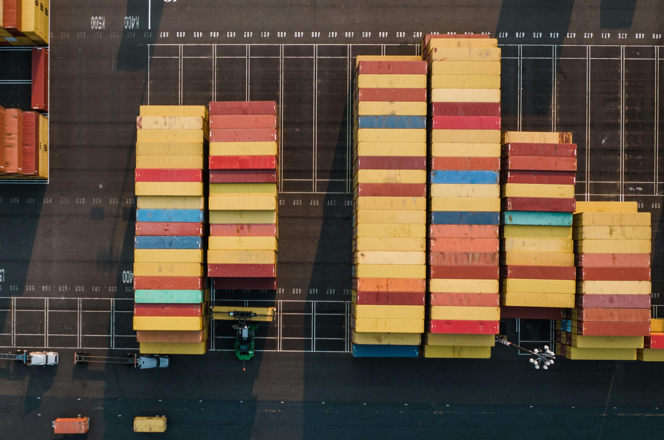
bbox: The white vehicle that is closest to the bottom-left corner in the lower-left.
[18,350,62,367]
